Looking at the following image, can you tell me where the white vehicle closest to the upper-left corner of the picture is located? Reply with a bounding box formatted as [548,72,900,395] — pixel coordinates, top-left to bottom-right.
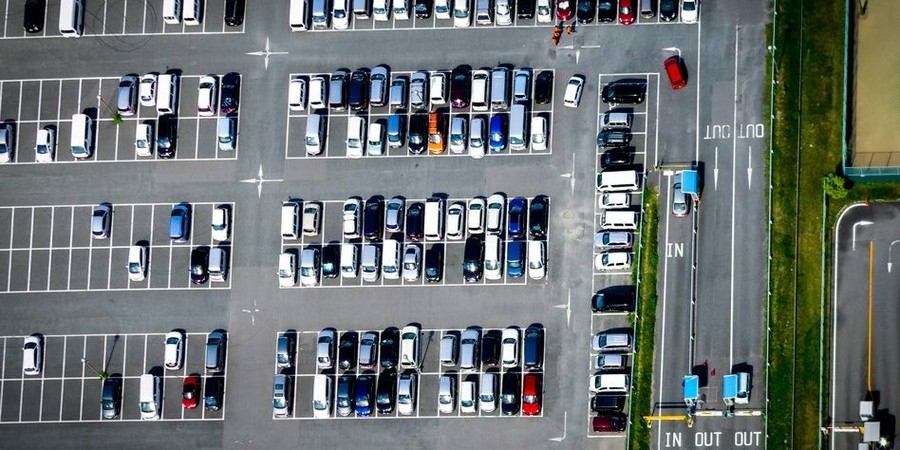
[60,0,83,38]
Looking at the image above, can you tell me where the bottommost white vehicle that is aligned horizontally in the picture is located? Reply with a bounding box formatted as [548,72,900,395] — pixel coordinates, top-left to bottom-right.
[590,374,630,393]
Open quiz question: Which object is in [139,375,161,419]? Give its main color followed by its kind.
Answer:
white vehicle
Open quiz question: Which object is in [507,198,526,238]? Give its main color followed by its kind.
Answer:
blue car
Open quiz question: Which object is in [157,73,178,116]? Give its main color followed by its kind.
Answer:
white vehicle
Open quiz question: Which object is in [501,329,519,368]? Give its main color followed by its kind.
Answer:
white car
